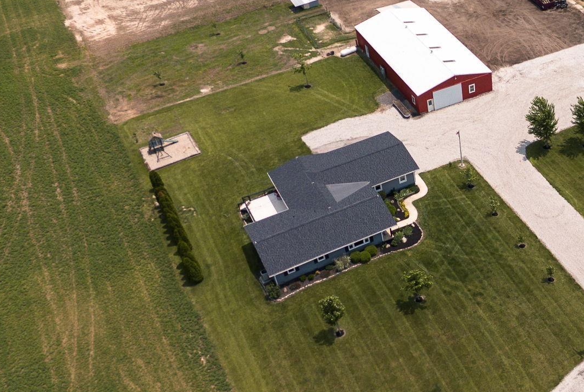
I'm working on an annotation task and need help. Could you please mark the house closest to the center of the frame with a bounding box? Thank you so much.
[243,132,419,285]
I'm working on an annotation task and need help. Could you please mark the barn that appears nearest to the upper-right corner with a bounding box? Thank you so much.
[354,0,494,114]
